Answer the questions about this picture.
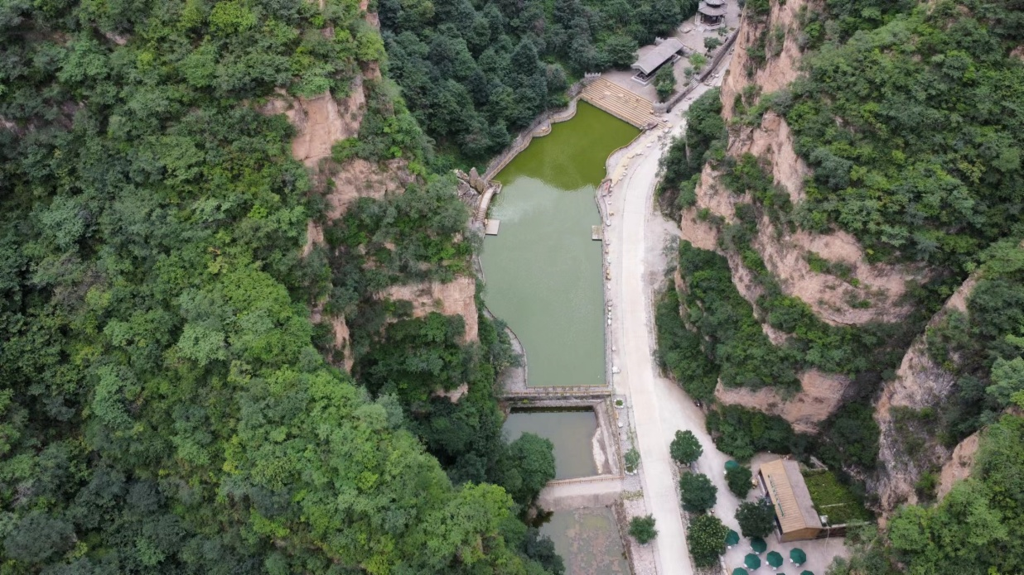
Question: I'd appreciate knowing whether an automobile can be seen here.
No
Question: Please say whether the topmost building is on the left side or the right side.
right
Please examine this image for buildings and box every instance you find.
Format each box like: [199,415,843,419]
[752,463,824,541]
[630,35,685,81]
[696,0,730,33]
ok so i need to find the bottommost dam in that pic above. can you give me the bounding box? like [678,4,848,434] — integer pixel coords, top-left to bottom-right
[533,474,623,509]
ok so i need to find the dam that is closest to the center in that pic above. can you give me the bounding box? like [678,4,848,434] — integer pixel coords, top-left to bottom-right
[500,385,612,415]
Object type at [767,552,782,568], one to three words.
umbrella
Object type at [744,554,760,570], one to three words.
umbrella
